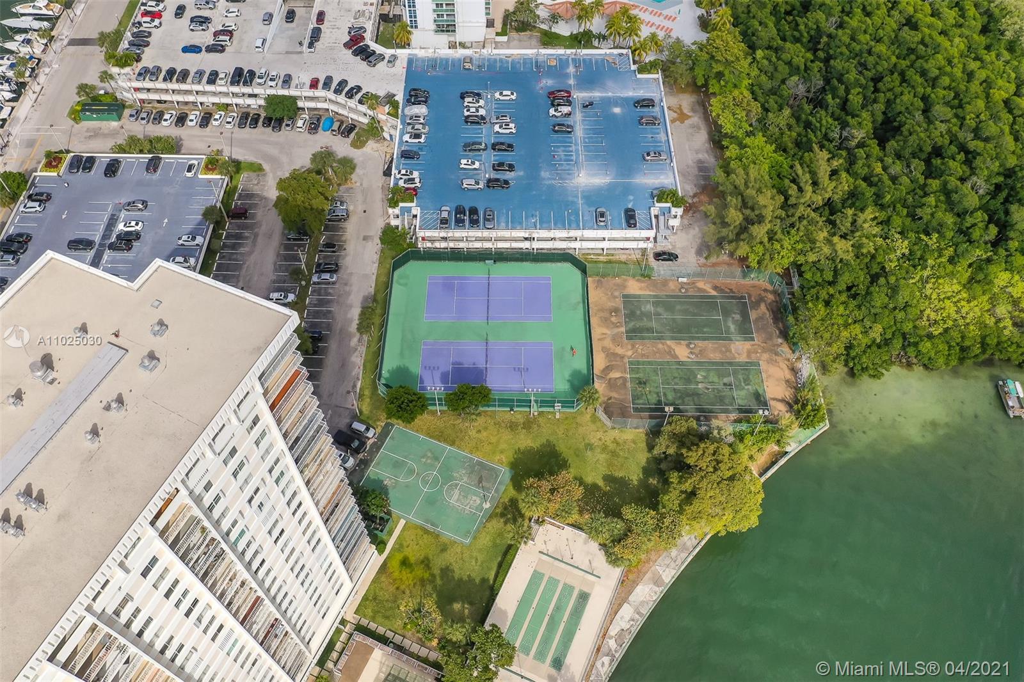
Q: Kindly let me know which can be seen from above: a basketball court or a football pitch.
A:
basketball court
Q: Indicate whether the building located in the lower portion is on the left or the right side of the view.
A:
left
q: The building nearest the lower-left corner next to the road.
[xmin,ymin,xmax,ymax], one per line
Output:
[0,250,383,682]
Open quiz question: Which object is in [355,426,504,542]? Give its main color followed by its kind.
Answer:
green basketball court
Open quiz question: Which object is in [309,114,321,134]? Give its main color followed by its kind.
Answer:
gray vehicle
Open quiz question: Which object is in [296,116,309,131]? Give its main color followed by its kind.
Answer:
white vehicle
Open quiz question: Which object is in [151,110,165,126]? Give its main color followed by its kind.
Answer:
gray car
